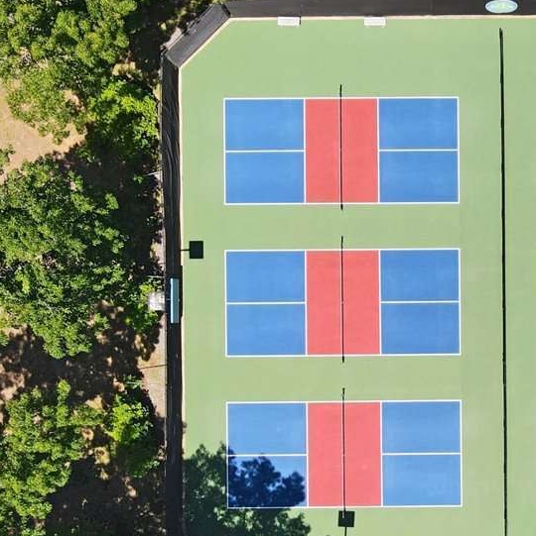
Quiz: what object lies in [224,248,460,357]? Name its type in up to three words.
sports court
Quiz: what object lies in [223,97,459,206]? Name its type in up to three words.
sports court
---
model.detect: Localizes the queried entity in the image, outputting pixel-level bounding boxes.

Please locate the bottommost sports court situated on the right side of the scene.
[227,400,463,510]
